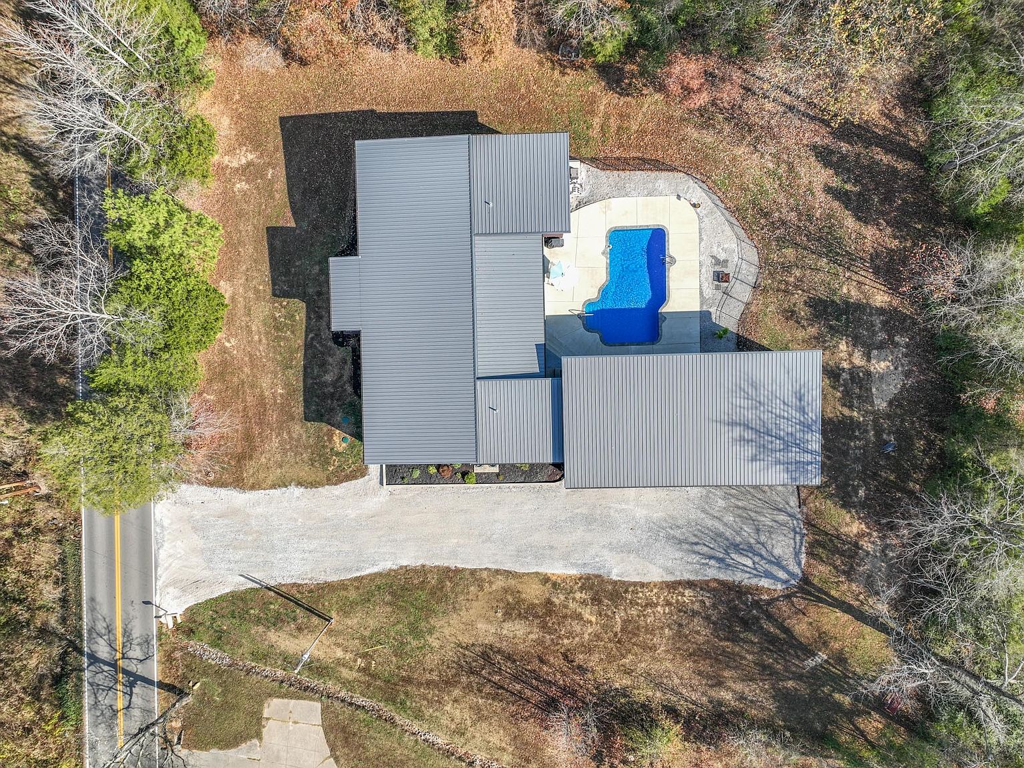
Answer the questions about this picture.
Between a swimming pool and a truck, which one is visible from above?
swimming pool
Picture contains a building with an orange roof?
No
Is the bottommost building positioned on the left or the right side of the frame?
right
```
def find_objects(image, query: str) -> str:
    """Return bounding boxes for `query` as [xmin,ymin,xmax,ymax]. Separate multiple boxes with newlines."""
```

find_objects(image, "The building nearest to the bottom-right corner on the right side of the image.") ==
[563,351,824,490]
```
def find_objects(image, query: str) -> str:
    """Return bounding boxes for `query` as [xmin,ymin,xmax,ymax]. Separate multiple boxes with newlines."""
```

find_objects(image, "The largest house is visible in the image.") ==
[330,131,571,465]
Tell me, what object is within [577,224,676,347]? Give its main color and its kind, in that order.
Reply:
blue swimming pool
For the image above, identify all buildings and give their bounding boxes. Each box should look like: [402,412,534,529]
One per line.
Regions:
[563,351,824,490]
[330,131,571,465]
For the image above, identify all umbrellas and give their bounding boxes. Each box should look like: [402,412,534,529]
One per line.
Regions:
[547,260,576,289]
